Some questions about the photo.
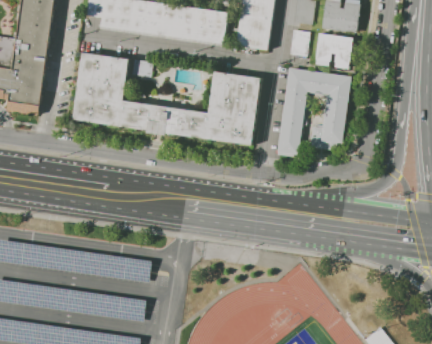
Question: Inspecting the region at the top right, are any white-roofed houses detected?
Yes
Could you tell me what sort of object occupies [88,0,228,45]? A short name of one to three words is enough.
building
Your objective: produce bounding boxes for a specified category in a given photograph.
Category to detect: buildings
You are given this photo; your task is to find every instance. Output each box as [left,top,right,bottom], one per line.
[297,0,316,26]
[237,0,276,51]
[322,0,360,33]
[290,30,311,58]
[88,0,228,45]
[72,52,261,145]
[136,60,153,78]
[316,34,354,70]
[278,68,352,156]
[0,0,54,115]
